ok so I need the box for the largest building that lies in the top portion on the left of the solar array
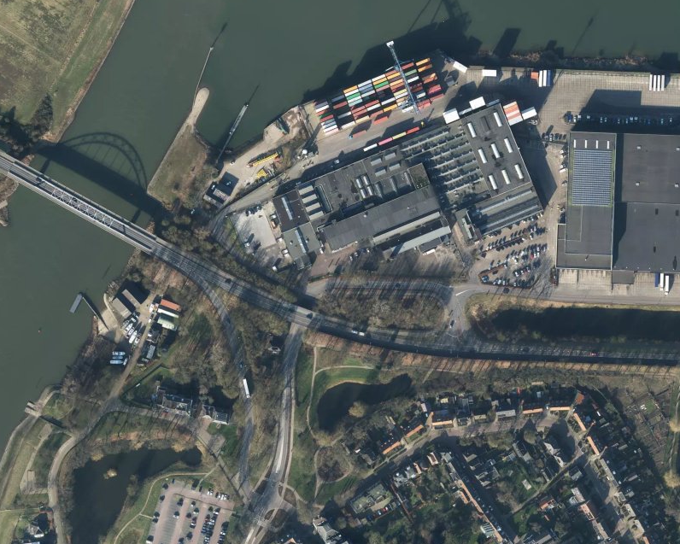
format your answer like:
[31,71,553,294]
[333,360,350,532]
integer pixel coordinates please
[272,102,543,268]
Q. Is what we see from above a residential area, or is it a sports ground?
residential area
